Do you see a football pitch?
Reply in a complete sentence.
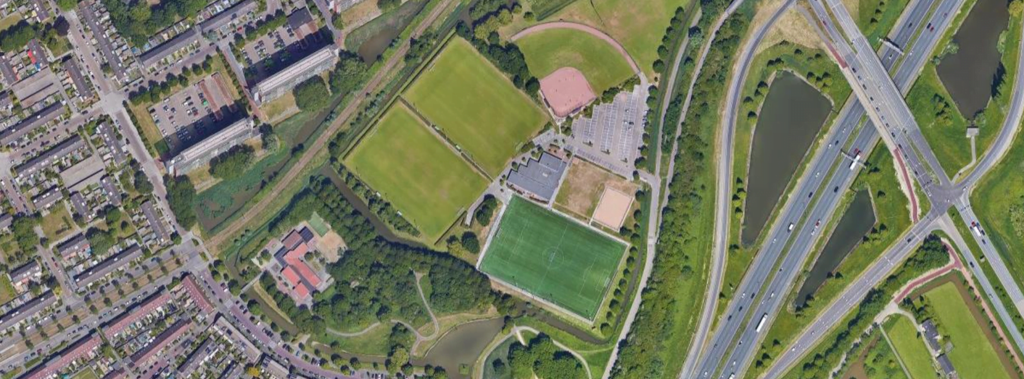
Yes, the picture does show a football pitch.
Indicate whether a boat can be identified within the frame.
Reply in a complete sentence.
No, there appears to be no boat in this shot.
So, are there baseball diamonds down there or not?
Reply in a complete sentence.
Yes, the picture does show a baseball diamond.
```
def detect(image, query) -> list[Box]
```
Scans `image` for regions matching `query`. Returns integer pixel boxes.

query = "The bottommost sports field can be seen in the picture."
[477,191,634,325]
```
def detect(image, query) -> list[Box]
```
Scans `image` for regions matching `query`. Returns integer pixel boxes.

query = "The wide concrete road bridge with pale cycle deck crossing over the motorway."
[841,39,917,151]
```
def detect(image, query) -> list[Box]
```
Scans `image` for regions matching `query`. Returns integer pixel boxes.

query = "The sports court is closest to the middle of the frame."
[591,187,633,232]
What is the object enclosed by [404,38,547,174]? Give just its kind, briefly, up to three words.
soccer field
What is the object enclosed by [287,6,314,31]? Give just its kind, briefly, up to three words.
building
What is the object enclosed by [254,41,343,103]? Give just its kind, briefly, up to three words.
building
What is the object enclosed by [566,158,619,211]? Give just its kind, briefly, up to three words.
sports field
